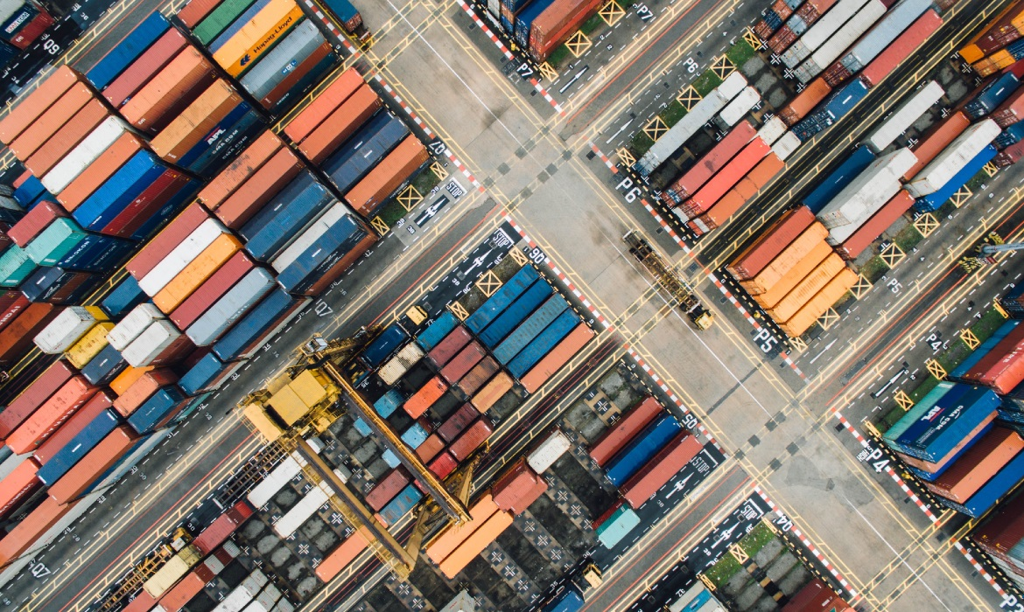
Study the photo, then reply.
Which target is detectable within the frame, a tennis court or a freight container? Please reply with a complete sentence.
There is a freight container in the scene.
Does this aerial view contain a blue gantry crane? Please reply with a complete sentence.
No, there appears to be no blue gantry crane in this shot.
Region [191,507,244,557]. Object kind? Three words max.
shipping container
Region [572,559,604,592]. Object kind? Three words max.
truck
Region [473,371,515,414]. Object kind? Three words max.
shipping container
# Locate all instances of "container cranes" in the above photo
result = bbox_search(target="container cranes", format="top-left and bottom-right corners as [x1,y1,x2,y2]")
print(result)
[240,321,487,585]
